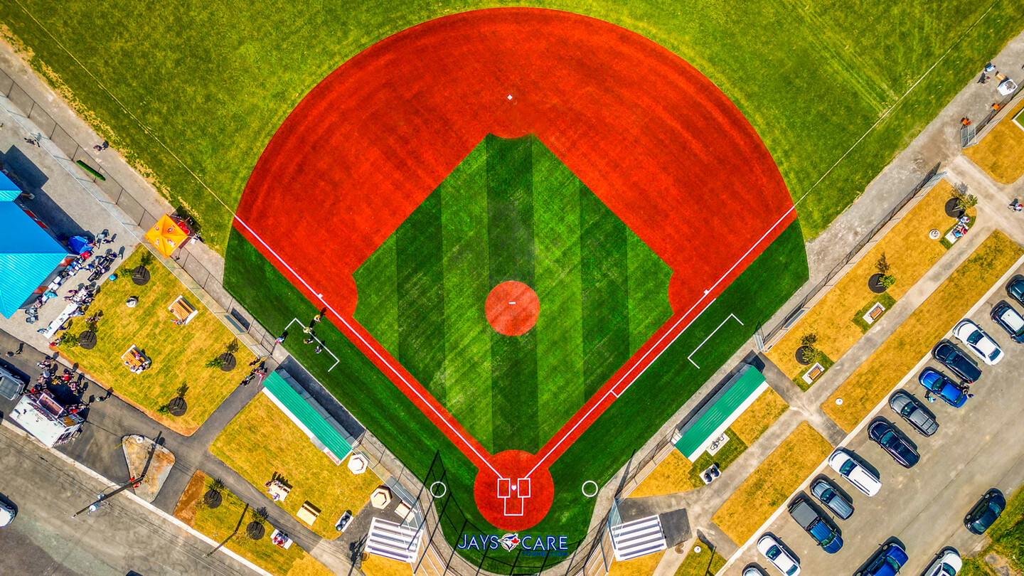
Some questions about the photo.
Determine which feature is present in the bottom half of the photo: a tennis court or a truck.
truck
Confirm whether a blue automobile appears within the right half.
Yes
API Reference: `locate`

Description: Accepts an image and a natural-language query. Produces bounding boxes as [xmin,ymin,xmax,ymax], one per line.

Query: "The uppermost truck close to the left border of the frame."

[0,365,28,401]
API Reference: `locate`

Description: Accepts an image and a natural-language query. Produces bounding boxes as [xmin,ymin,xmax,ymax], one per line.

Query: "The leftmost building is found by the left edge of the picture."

[0,161,80,319]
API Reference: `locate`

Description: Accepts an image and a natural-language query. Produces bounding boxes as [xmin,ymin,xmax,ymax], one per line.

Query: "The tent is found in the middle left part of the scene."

[145,214,202,259]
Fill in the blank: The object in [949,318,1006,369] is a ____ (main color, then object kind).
white car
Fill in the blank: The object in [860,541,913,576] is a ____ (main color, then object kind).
blue truck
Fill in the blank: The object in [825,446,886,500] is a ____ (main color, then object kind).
white car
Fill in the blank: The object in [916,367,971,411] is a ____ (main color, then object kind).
blue car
